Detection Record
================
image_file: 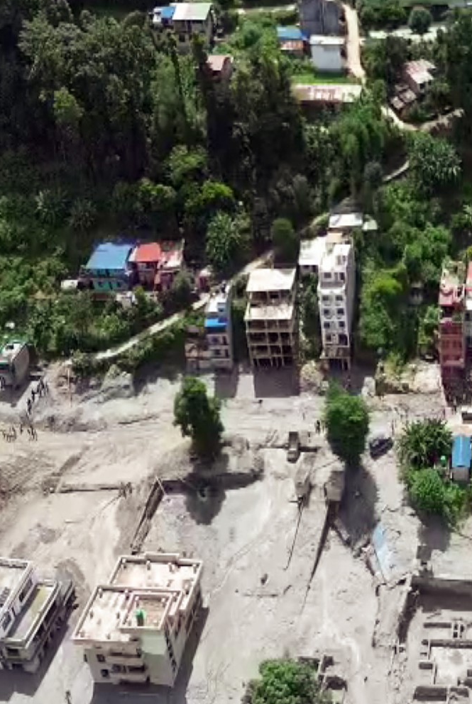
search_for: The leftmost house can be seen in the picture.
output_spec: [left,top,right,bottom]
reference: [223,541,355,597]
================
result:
[0,332,37,384]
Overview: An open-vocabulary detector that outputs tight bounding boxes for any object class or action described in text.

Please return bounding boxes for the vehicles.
[454,405,472,418]
[365,436,394,455]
